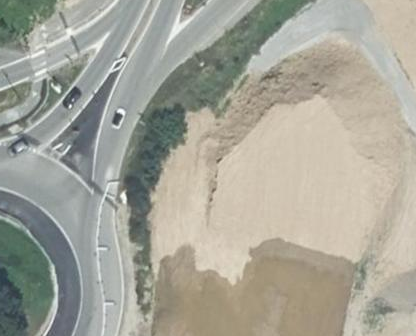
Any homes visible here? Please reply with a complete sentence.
No, the picture doesn't show any home.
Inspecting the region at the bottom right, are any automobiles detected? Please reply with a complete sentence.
No, I see no automobile at the bottom right.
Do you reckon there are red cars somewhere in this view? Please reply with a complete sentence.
No, no red car is visible in the scene.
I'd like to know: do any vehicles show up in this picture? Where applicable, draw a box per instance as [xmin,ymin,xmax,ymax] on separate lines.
[113,107,126,129]
[8,138,30,155]
[63,86,82,108]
